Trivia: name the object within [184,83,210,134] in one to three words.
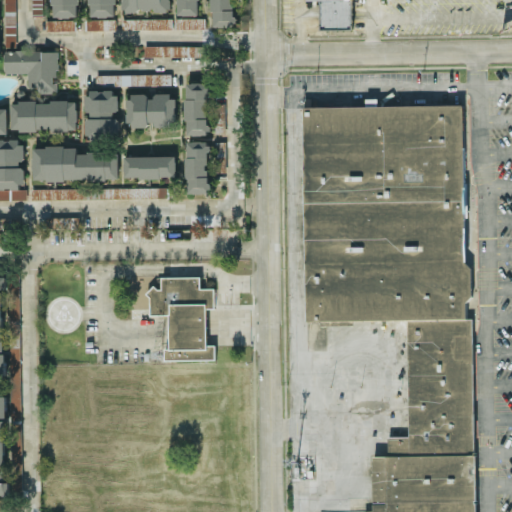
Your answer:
house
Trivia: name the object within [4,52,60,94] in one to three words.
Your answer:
house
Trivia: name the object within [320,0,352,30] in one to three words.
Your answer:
building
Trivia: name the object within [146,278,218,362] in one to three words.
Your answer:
building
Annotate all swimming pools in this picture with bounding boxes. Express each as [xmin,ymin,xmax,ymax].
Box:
[0,76,24,108]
